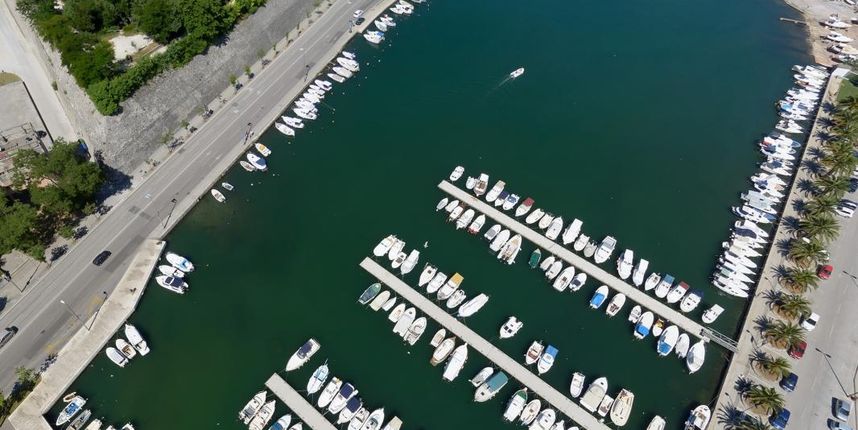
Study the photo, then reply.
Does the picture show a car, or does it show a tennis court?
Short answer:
car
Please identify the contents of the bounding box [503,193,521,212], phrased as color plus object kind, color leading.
white boat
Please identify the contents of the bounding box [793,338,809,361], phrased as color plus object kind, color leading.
red car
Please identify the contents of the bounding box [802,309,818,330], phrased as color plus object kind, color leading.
white car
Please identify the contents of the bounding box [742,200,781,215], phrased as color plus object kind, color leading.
white boat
